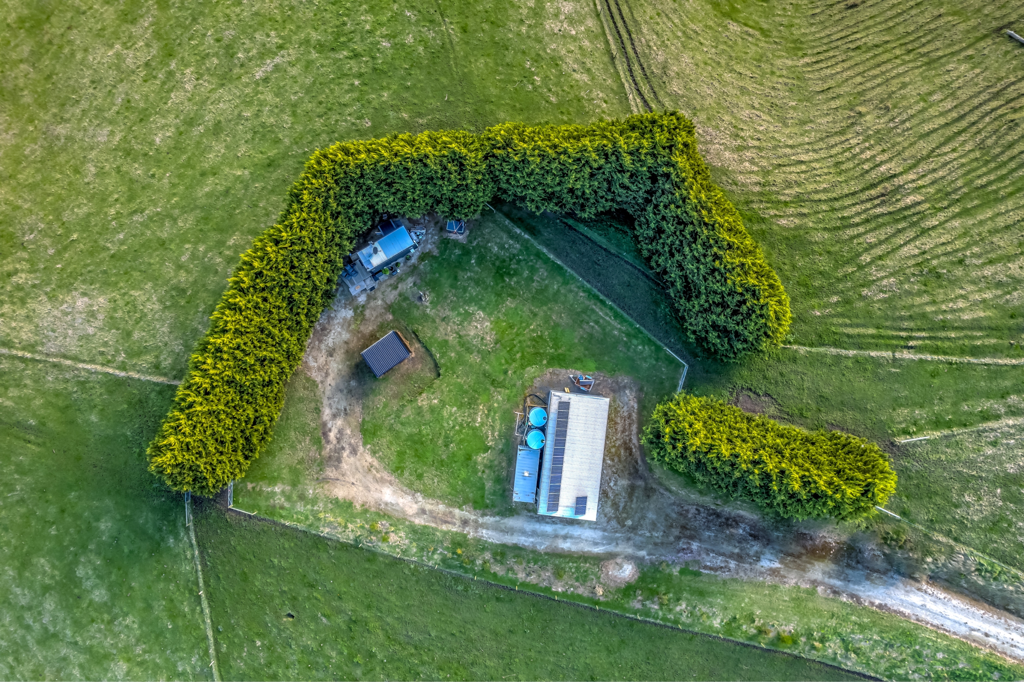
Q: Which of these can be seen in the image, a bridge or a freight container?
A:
freight container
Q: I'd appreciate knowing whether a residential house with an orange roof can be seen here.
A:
No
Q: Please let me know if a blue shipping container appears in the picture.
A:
Yes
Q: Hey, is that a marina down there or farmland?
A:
farmland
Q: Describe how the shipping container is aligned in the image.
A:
up and down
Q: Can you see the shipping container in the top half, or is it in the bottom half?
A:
bottom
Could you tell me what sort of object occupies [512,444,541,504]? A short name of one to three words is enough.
shipping container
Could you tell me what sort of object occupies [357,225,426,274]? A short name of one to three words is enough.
house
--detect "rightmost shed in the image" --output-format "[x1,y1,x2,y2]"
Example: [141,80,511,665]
[536,391,610,521]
